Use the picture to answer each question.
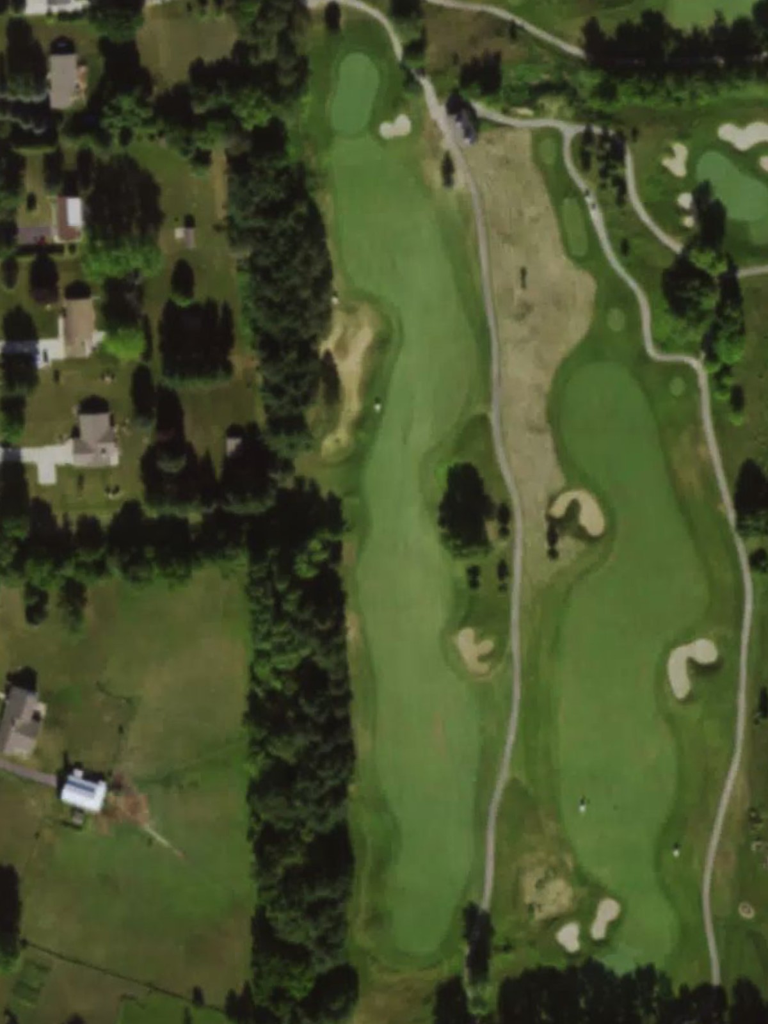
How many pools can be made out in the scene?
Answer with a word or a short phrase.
zero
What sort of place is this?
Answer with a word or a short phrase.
golf course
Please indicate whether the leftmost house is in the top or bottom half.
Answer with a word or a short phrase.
bottom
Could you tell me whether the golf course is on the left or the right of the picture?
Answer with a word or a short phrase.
right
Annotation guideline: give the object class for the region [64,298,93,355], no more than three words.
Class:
house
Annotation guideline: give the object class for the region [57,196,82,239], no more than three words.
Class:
house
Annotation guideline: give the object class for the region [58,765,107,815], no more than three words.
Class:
barn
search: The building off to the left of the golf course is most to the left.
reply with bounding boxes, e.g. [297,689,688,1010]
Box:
[0,689,50,759]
